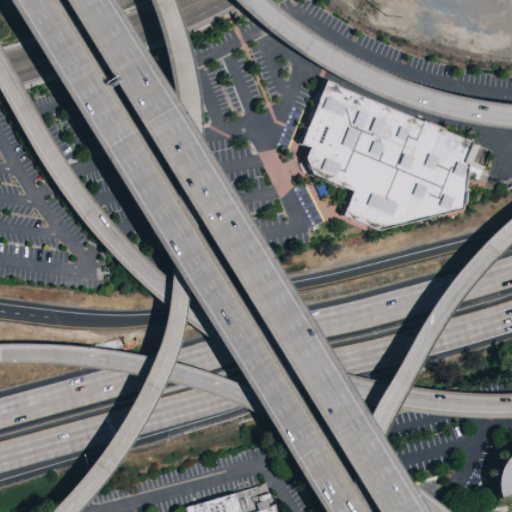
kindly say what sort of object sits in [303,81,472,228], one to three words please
building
